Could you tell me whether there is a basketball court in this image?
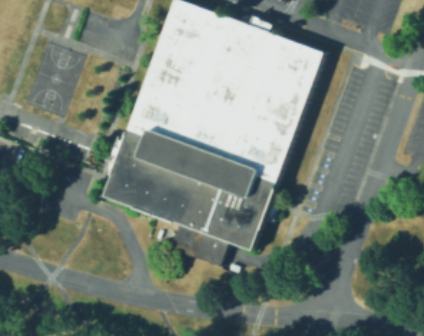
Yes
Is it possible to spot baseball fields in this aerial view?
No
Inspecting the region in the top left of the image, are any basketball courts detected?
Yes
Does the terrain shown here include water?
No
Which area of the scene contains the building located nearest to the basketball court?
center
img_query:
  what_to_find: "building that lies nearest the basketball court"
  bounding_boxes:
[102,0,324,266]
